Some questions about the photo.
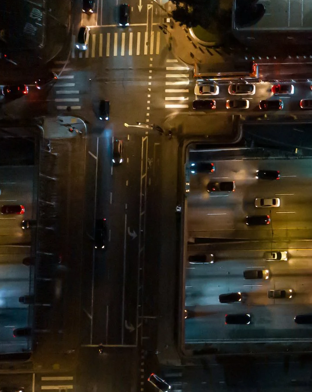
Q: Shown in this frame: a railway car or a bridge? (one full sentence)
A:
Visible in the photo is a bridge.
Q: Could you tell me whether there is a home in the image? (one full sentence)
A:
No, no home is visible in the scene.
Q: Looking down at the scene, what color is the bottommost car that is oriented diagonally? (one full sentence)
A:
In this view, the bottommost car that is oriented diagonally is black.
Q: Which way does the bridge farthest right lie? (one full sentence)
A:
The bridge farthest right is laid out vertically.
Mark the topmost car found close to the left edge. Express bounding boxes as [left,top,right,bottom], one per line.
[2,84,30,96]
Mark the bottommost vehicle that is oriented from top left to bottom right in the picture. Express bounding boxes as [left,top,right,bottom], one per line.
[147,372,172,392]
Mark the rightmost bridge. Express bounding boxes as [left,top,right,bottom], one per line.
[160,125,246,355]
